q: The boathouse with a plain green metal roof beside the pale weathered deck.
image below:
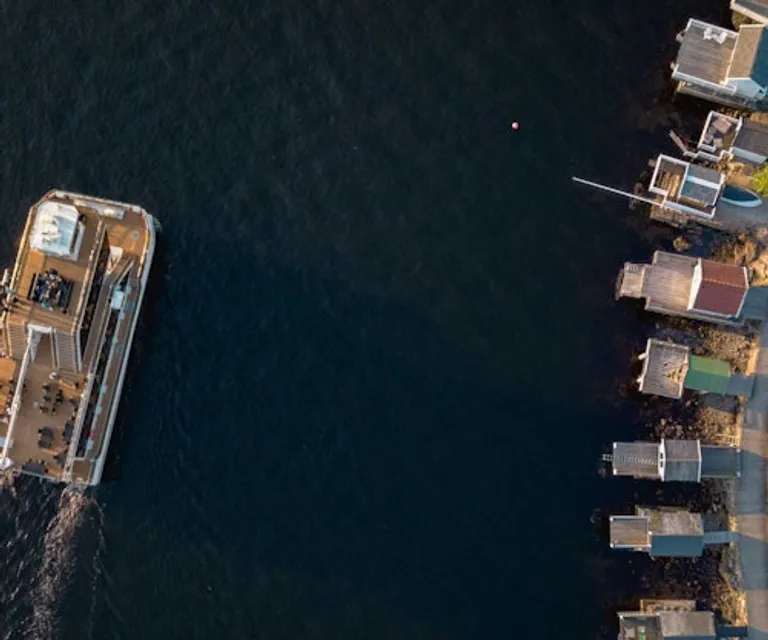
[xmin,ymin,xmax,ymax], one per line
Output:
[680,355,729,394]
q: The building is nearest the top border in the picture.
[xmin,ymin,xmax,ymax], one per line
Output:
[724,25,768,99]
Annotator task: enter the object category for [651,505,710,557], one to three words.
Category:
building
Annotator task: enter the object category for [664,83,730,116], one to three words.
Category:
pier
